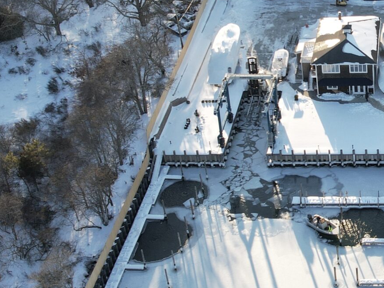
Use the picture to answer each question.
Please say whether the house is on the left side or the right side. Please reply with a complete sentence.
The house sits on the right side.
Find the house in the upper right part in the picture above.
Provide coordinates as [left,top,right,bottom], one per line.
[292,6,378,100]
